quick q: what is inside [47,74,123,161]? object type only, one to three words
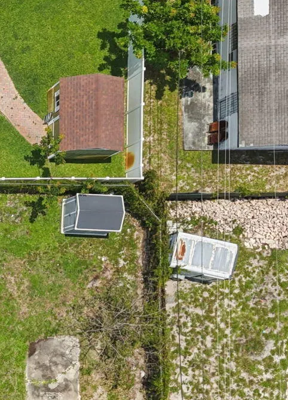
shed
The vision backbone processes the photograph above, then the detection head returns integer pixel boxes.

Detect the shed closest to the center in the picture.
[61,192,125,233]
